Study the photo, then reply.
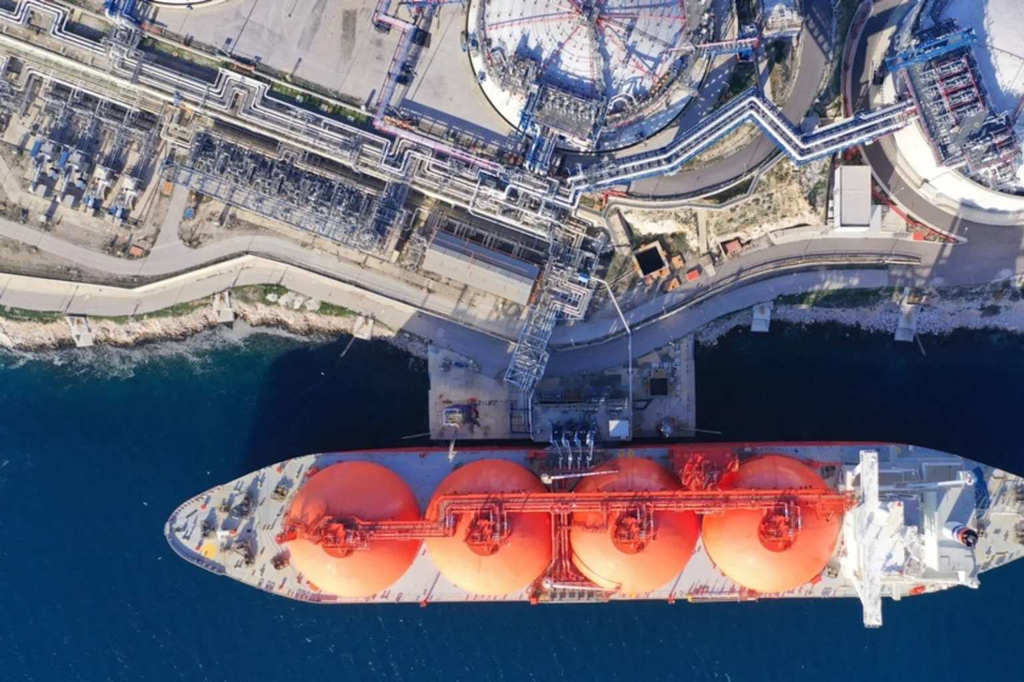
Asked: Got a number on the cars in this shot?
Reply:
0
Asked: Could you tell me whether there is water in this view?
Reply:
Yes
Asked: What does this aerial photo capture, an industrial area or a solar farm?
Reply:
industrial area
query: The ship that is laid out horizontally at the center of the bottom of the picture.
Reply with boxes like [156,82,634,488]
[162,441,1024,629]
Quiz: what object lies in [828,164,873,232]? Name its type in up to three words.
building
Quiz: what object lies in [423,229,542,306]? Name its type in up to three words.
shed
